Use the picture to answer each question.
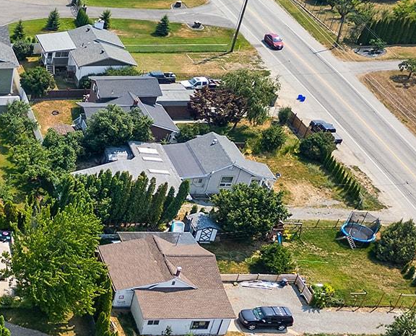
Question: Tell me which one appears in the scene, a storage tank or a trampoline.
trampoline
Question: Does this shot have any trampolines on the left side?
No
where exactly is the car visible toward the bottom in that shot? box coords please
[238,306,299,333]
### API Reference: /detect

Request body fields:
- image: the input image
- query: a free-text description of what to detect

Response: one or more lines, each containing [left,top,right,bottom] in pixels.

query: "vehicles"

[310,117,340,141]
[265,32,284,46]
[238,306,299,333]
[179,74,219,87]
[143,68,184,83]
